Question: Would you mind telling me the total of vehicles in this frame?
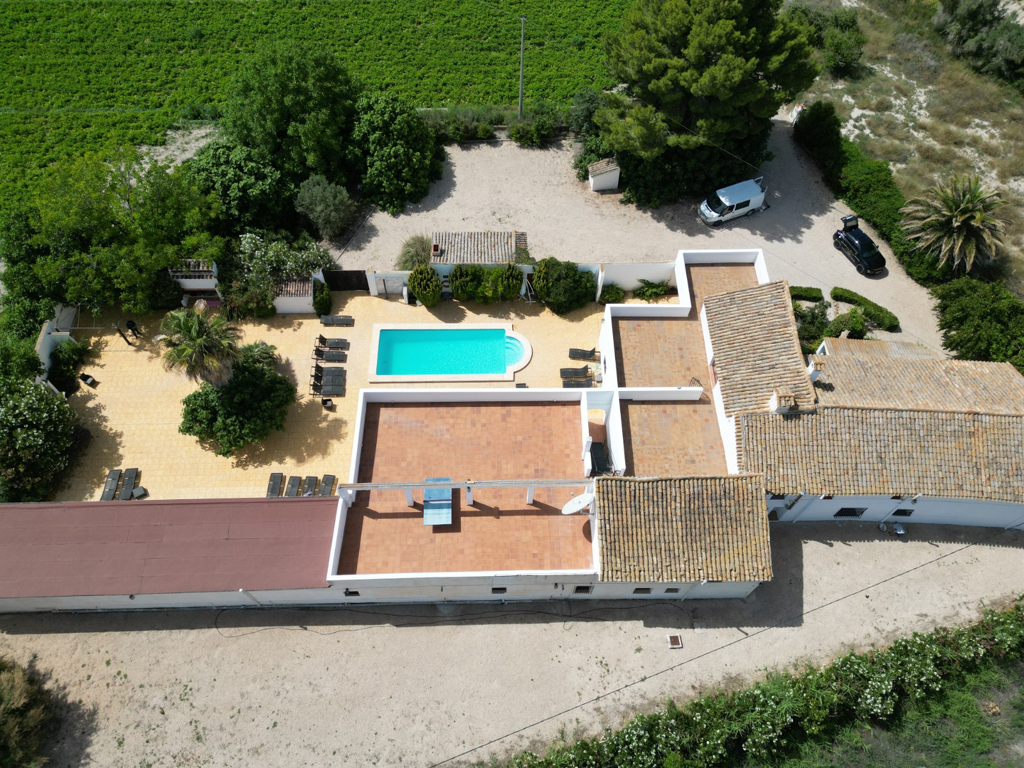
2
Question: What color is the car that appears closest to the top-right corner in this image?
black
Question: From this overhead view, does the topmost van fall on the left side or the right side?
right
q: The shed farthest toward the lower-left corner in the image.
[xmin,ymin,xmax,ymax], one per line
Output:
[0,496,340,615]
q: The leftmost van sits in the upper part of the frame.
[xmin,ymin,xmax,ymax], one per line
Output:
[690,176,775,227]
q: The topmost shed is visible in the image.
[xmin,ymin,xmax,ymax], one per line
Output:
[586,155,623,194]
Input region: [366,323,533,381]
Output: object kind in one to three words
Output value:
swimming pool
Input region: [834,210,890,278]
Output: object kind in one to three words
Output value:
car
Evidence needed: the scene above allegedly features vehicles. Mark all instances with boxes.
[690,176,775,227]
[834,210,890,278]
